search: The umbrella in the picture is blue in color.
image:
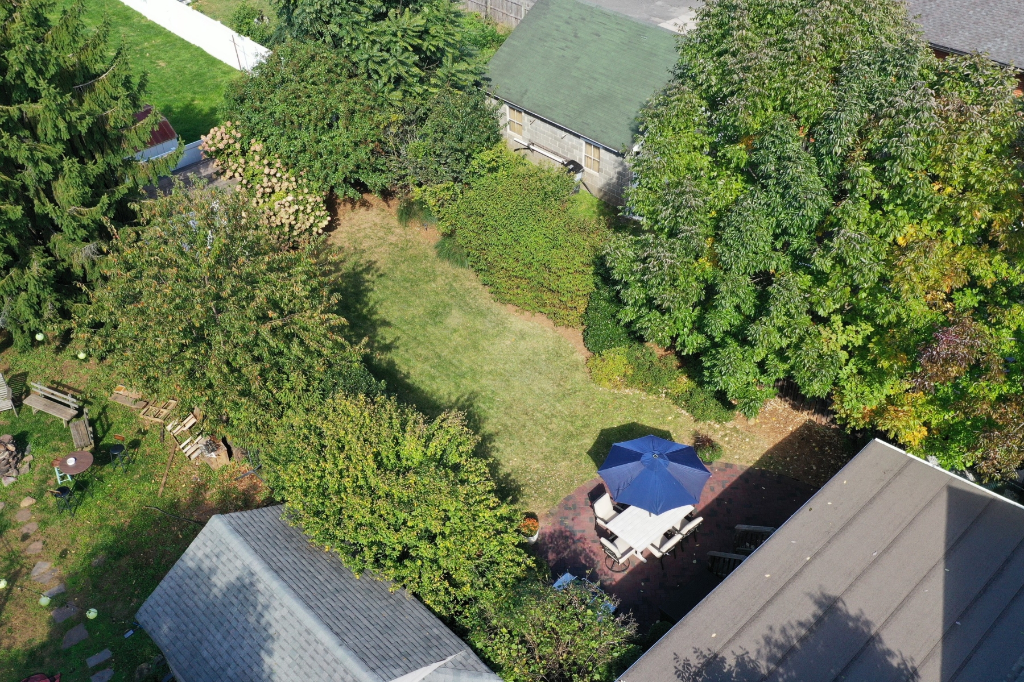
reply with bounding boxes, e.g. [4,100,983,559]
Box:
[598,438,712,519]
